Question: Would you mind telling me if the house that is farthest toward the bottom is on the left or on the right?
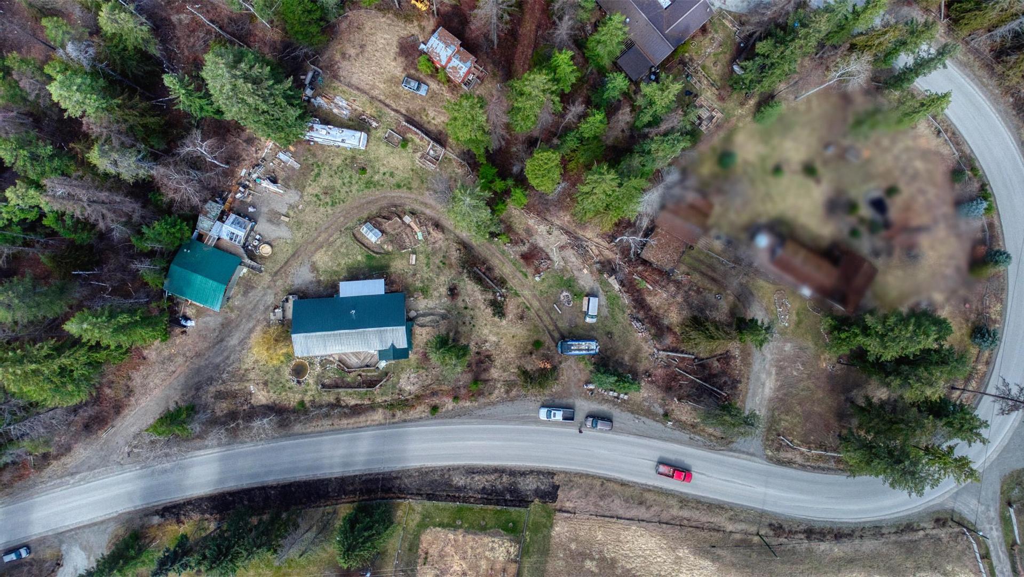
left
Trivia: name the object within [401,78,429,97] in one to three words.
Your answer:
car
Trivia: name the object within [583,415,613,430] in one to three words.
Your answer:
car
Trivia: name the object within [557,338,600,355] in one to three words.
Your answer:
vehicle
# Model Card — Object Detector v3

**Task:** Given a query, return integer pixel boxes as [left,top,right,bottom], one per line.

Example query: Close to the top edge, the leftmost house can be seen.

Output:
[419,27,476,85]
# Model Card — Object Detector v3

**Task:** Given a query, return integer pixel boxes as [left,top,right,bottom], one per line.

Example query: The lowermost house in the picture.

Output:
[291,279,414,361]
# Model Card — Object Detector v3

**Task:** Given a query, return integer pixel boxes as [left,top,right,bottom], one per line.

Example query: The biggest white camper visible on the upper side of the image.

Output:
[304,124,369,152]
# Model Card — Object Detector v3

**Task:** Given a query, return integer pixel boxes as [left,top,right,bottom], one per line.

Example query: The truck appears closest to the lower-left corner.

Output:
[0,543,33,564]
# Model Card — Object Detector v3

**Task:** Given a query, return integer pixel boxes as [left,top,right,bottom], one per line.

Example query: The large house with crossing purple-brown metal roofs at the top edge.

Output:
[593,0,730,82]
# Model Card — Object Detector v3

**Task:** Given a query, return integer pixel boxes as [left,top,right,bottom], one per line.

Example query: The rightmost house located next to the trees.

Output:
[767,239,878,316]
